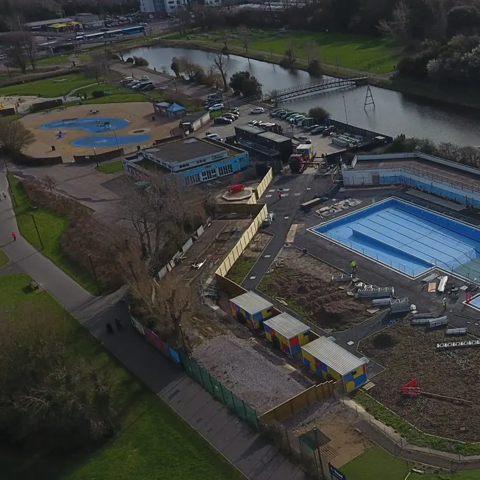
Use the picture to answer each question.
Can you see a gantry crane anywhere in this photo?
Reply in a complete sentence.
No, no gantry crane is visible in the view.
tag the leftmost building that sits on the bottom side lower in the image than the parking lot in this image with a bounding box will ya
[229,290,274,332]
